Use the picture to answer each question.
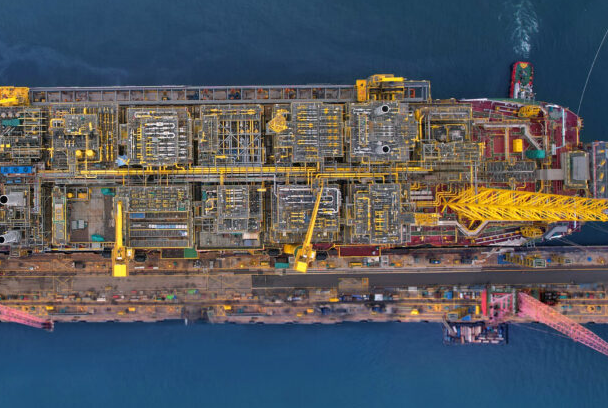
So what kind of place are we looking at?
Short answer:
port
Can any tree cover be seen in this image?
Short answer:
No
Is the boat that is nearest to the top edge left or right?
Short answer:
right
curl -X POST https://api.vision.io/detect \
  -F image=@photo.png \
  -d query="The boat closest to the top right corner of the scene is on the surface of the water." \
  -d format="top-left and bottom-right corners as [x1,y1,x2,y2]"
[508,61,534,100]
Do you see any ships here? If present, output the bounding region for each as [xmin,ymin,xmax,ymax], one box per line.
[0,86,608,259]
[441,313,508,344]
